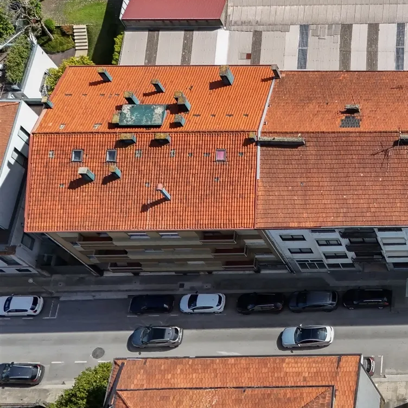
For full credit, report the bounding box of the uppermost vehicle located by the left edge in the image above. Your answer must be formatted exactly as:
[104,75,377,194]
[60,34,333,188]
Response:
[0,293,47,317]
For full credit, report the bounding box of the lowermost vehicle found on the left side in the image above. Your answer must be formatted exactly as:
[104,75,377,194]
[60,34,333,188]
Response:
[0,359,49,386]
